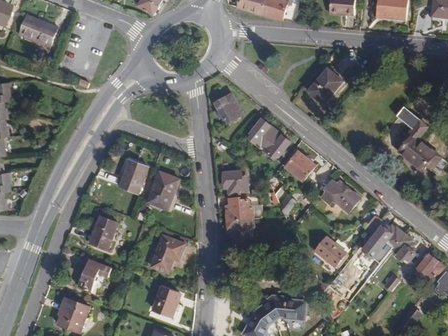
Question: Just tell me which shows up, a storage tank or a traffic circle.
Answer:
traffic circle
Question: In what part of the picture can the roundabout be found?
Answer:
top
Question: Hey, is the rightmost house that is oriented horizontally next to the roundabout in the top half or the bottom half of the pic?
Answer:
top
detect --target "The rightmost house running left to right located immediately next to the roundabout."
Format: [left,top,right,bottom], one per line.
[235,0,289,24]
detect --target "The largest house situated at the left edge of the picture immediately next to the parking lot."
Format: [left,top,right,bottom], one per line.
[18,14,60,50]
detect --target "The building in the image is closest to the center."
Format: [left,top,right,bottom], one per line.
[220,170,250,197]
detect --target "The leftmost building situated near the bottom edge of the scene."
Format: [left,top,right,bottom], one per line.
[54,296,92,336]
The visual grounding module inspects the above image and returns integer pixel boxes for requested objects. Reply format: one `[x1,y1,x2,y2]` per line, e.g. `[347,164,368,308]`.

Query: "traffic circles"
[126,0,234,95]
